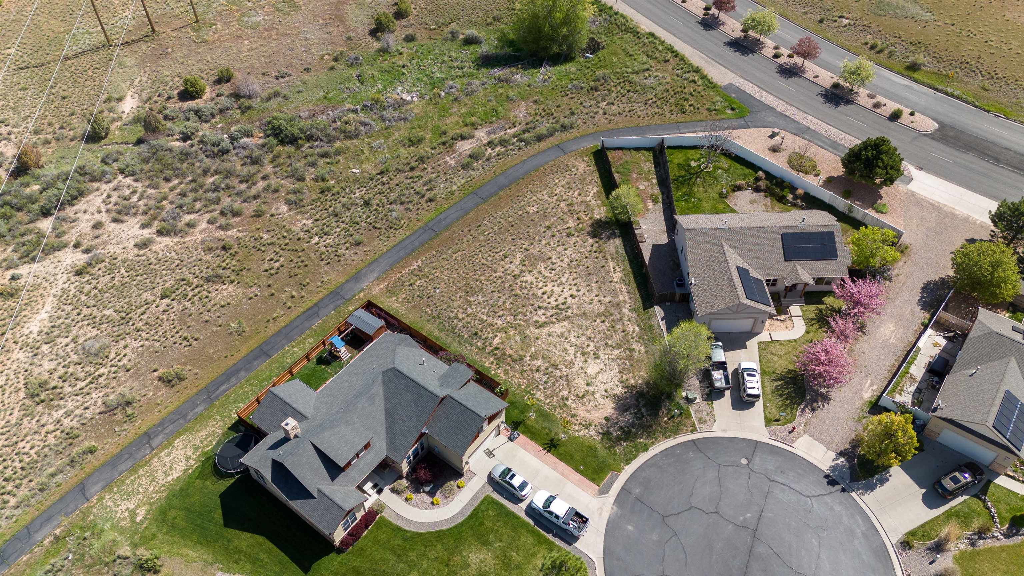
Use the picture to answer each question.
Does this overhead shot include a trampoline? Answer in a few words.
Yes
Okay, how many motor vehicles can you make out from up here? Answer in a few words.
5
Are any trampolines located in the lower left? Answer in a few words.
Yes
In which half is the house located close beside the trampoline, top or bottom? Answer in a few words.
bottom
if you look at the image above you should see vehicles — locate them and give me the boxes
[710,351,733,394]
[932,467,988,501]
[737,361,761,403]
[488,464,535,502]
[530,490,593,541]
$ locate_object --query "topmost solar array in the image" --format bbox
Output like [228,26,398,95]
[781,231,838,260]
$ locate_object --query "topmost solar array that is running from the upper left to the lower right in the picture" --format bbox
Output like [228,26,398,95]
[737,265,771,305]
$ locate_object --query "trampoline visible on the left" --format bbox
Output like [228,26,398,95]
[210,423,261,476]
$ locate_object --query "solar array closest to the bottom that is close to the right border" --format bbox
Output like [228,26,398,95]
[996,380,1024,447]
